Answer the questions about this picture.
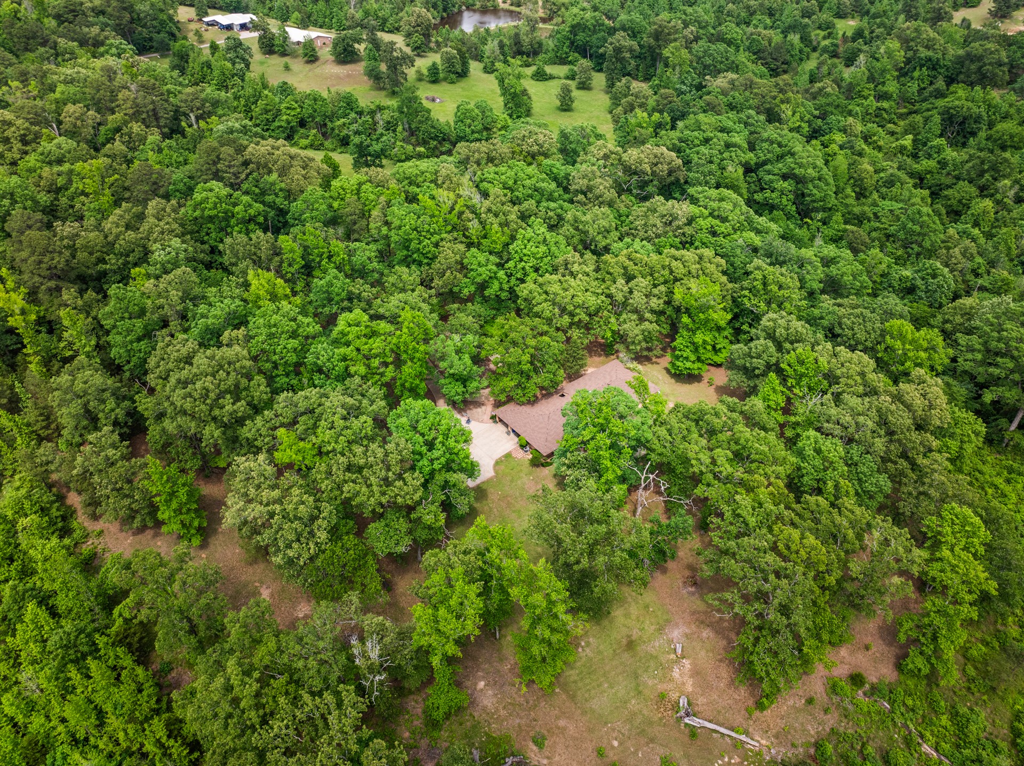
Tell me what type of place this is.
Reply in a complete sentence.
What you see here is a forest.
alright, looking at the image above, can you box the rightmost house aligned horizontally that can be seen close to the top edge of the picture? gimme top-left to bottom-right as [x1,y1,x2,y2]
[283,29,333,47]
